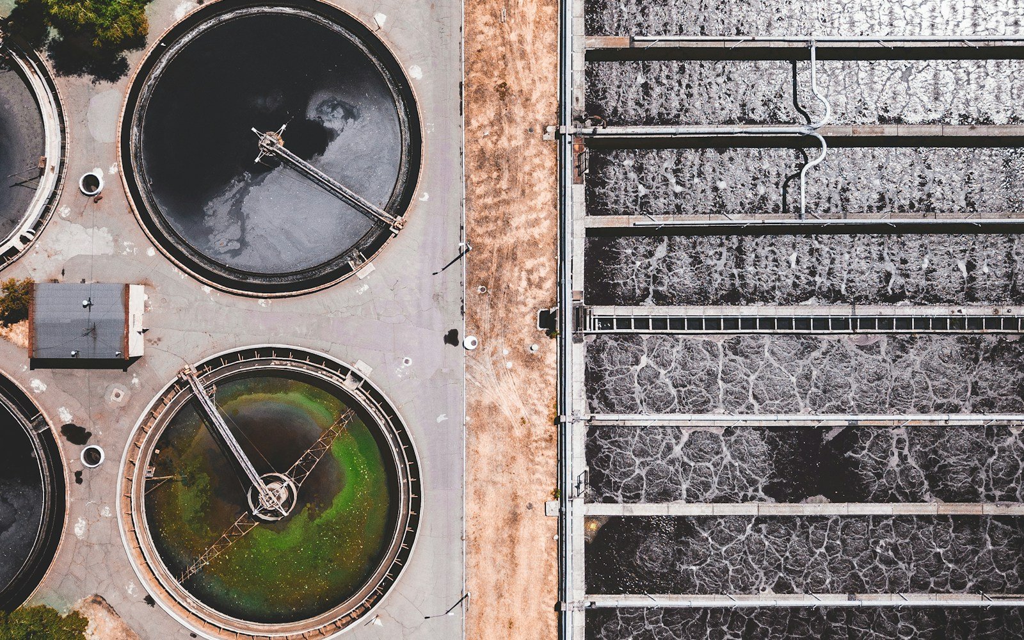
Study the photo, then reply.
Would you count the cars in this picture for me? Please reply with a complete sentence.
There are no cars in the image.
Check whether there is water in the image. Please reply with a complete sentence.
Yes, the picture does contain water.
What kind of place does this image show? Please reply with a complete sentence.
The area seen from above is an industrial area.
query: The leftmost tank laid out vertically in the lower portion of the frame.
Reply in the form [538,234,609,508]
[0,366,71,623]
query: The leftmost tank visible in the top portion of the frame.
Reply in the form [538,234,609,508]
[0,15,71,272]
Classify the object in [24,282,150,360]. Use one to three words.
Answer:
shed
